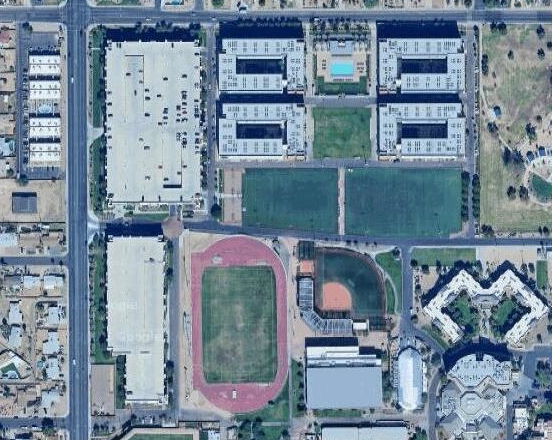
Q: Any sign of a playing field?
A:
Yes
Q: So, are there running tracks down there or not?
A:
Yes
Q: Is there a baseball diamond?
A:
Yes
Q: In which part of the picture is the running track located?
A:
bottom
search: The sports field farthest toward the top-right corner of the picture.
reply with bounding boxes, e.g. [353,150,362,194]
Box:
[347,169,462,236]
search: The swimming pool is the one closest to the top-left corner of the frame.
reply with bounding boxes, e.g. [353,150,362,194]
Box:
[36,101,59,114]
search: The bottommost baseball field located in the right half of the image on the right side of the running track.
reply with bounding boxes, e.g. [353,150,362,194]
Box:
[316,247,386,327]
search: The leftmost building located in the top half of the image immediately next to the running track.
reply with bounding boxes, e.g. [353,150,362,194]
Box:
[107,40,201,208]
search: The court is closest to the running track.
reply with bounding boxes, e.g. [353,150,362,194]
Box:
[225,197,242,220]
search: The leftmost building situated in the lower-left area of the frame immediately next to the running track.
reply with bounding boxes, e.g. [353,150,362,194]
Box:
[107,236,168,406]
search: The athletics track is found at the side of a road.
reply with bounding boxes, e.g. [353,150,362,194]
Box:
[191,235,289,414]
